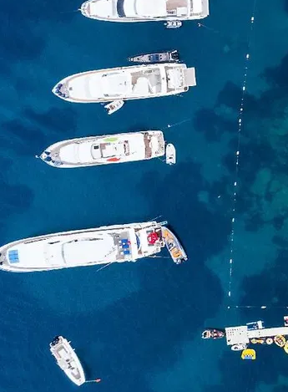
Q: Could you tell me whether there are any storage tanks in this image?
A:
No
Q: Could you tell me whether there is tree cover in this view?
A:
No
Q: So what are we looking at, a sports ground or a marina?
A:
marina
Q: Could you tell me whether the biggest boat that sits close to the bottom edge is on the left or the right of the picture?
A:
left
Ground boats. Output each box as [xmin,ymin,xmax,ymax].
[52,62,206,102]
[0,221,180,266]
[40,131,173,165]
[167,230,186,266]
[47,334,85,386]
[102,102,125,115]
[80,0,216,24]
[200,330,225,339]
[166,145,175,168]
[166,22,182,28]
[232,344,249,351]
